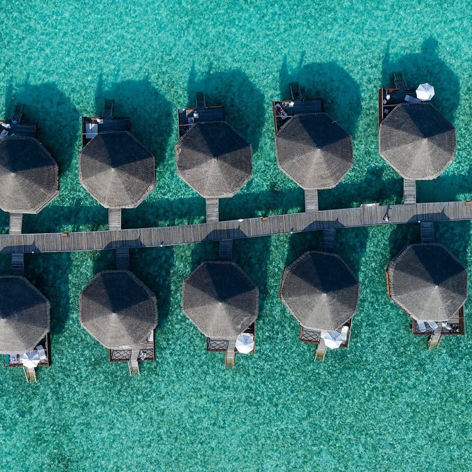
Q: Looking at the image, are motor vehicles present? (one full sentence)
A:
No, there is no motor vehicle in the image.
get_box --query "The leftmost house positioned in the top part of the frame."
[0,101,67,215]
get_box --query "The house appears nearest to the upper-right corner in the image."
[374,70,458,182]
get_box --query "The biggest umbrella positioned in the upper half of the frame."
[416,82,434,101]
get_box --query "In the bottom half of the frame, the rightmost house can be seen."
[380,241,468,351]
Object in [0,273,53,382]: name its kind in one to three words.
house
